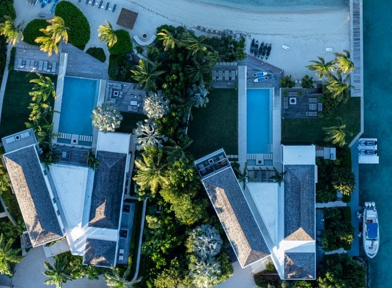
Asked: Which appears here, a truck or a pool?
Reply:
pool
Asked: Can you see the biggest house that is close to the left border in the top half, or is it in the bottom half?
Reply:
bottom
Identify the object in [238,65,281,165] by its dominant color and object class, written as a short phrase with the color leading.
blue swimming pool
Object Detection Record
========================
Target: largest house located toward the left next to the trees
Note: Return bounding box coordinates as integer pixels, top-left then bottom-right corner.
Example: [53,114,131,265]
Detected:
[1,128,131,268]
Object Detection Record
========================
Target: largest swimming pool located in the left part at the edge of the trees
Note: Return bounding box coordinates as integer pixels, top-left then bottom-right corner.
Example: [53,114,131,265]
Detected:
[53,53,106,150]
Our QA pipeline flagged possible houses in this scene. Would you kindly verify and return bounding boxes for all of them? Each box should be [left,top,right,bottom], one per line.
[194,144,316,280]
[1,128,131,268]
